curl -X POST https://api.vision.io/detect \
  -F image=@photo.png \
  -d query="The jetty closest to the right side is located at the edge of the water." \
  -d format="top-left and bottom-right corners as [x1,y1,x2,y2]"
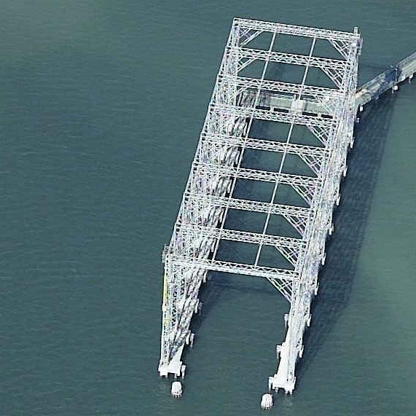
[264,101,366,395]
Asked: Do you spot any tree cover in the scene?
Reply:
No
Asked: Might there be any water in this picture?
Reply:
Yes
